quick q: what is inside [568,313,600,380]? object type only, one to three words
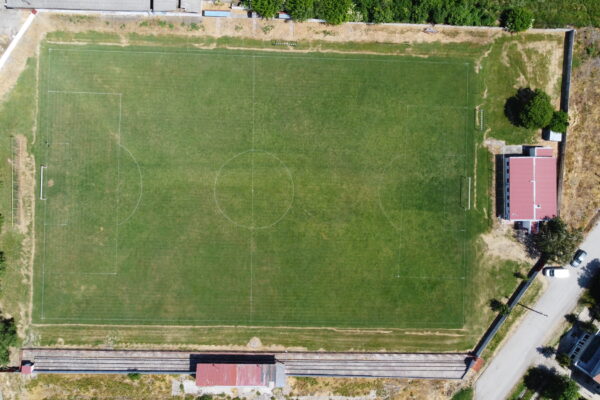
house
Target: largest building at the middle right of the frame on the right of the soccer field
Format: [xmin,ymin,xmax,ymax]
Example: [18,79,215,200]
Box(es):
[500,148,557,234]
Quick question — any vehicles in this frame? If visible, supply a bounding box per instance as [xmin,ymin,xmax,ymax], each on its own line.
[569,249,586,267]
[546,268,571,278]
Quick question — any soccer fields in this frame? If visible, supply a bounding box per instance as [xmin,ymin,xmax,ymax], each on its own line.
[34,46,474,331]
